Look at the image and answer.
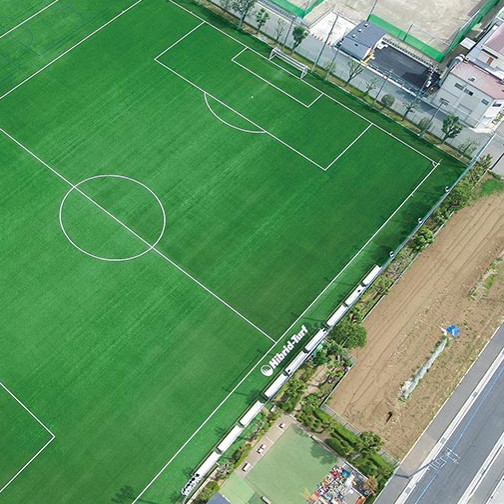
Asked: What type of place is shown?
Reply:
sports ground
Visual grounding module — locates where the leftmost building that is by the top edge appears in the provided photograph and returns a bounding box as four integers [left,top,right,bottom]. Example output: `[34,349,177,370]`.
[335,22,386,74]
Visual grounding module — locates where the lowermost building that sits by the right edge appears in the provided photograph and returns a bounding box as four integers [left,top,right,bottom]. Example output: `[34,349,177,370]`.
[431,60,504,127]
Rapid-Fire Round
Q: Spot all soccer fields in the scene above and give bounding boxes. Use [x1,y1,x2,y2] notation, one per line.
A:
[0,0,467,504]
[0,0,141,97]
